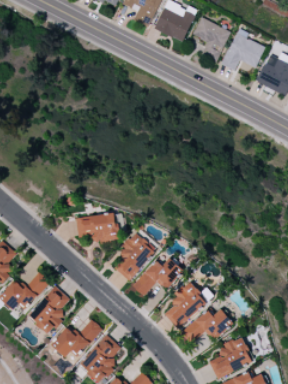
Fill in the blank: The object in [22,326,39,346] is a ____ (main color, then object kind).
blue swimming pool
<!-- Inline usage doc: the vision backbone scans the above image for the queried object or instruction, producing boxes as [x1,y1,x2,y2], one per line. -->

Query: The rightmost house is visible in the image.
[258,53,288,94]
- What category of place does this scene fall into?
residential area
